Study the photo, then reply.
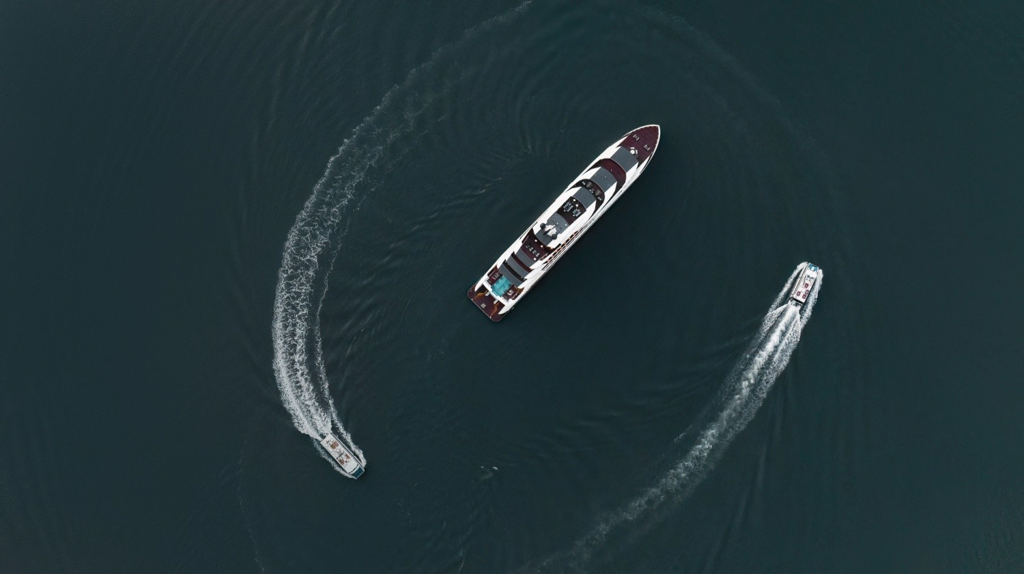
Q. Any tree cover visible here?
No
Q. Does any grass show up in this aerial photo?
No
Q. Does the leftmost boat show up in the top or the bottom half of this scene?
bottom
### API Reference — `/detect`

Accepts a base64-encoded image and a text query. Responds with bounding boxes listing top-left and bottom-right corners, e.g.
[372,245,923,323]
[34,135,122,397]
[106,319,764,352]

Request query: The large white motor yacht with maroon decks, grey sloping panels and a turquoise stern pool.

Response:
[468,124,661,322]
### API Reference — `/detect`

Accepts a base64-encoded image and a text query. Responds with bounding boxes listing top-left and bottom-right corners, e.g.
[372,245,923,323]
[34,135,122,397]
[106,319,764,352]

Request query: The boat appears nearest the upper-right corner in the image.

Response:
[788,262,819,309]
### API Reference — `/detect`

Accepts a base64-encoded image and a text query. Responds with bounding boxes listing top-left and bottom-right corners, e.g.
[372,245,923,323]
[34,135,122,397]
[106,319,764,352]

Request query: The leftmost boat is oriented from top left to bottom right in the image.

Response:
[320,433,365,479]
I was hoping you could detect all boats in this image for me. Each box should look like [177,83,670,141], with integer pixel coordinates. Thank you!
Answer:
[788,262,819,309]
[320,433,365,479]
[468,124,661,322]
